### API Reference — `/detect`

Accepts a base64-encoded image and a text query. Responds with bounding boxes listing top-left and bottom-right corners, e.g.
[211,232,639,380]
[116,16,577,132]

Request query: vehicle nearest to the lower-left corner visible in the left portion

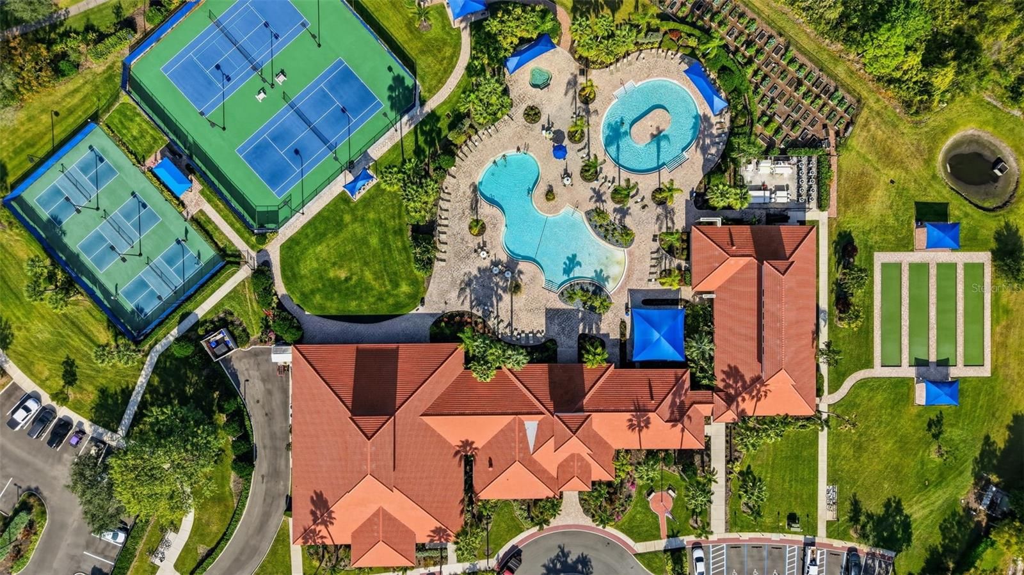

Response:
[97,528,127,547]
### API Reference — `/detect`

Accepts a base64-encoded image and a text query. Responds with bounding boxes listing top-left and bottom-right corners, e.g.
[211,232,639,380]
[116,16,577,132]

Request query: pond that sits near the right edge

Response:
[937,128,1022,213]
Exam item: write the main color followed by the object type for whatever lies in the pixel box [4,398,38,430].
white truck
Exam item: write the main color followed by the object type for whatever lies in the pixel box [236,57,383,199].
blue tennis court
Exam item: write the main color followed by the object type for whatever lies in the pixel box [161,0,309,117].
blue tennis court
